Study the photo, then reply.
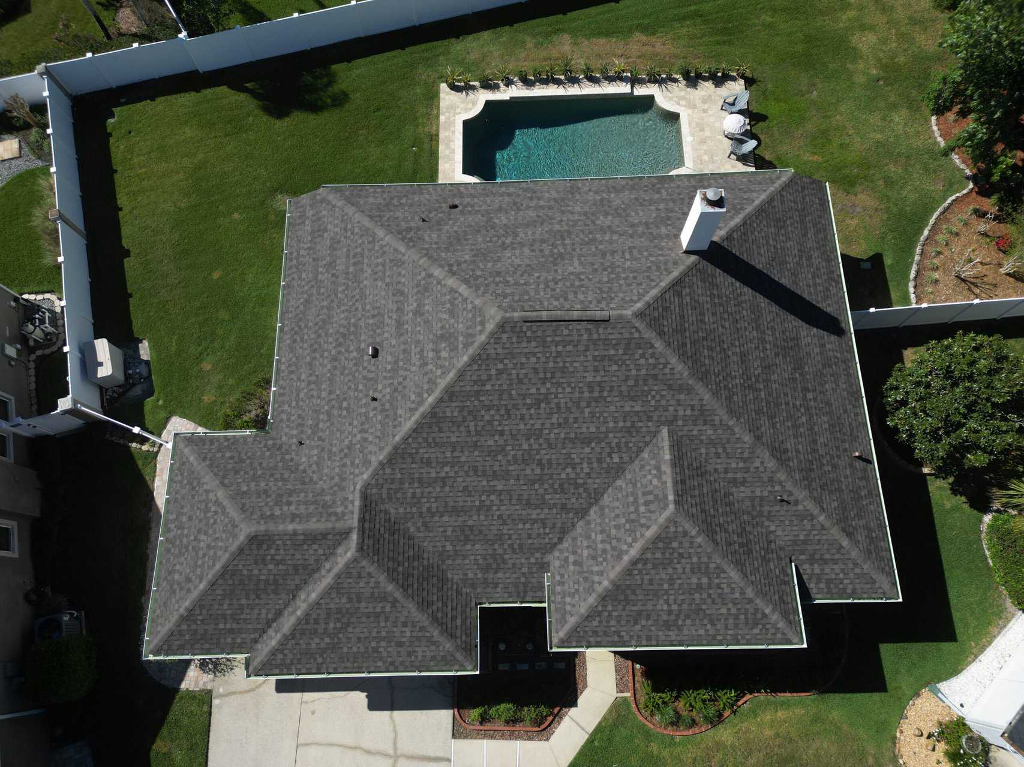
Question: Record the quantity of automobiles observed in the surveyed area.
0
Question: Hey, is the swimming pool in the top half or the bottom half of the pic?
top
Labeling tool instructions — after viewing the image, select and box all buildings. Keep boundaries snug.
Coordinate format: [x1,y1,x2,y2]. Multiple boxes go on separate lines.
[0,284,44,767]
[144,171,901,679]
[966,644,1024,767]
[82,339,126,387]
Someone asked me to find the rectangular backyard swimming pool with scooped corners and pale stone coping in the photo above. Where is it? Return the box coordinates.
[455,87,693,182]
